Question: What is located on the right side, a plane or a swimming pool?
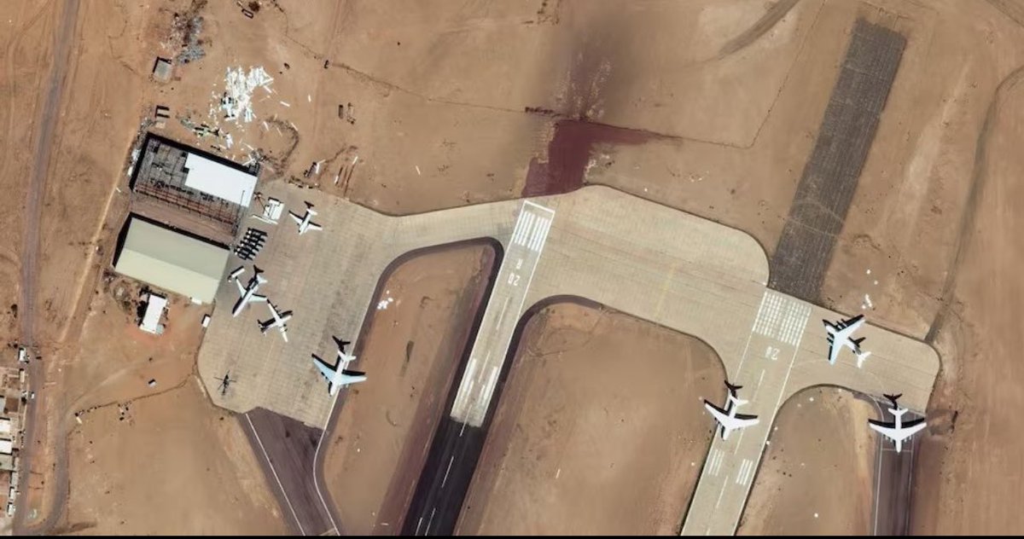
plane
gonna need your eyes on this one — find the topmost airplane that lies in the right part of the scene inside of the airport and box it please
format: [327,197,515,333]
[826,322,872,366]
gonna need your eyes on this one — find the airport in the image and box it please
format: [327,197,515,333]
[198,18,940,539]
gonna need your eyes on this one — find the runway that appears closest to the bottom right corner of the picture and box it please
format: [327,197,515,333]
[680,291,812,539]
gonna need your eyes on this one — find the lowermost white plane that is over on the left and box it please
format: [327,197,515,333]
[313,350,367,394]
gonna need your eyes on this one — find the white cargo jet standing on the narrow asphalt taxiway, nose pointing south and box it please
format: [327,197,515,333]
[870,408,927,453]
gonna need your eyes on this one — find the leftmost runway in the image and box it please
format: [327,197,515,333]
[398,200,556,539]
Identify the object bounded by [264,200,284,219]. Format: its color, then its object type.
white airplane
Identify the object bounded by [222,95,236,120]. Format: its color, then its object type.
white airplane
